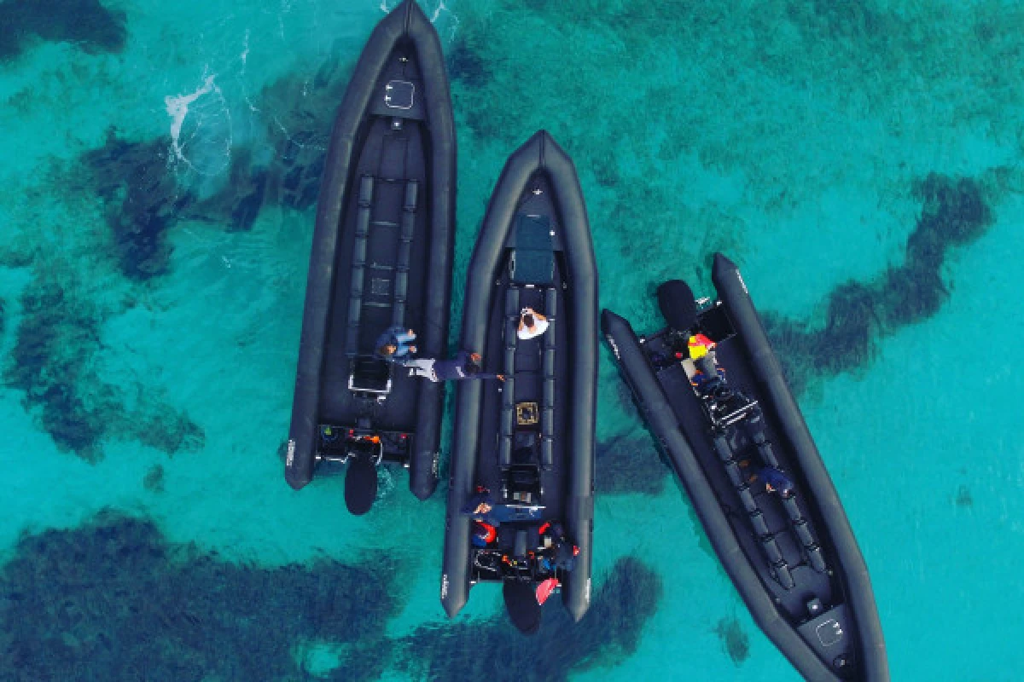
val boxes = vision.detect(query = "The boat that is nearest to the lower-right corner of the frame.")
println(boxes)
[603,254,890,682]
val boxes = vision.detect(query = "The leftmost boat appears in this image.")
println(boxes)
[287,0,460,514]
